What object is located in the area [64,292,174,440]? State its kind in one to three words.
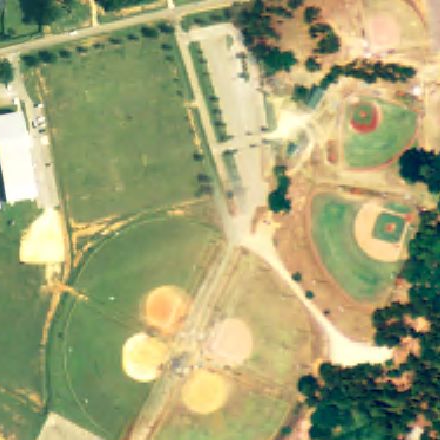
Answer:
baseball field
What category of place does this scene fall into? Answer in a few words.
sports ground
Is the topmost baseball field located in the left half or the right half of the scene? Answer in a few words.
right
